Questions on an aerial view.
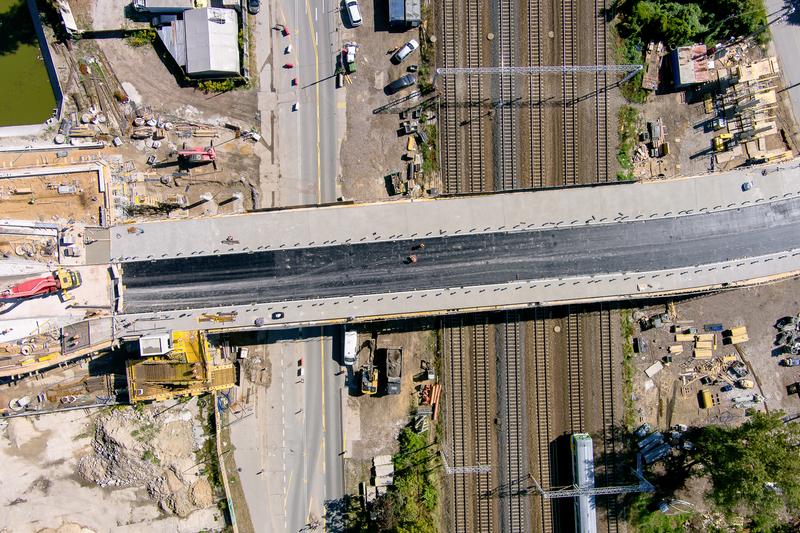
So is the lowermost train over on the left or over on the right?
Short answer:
right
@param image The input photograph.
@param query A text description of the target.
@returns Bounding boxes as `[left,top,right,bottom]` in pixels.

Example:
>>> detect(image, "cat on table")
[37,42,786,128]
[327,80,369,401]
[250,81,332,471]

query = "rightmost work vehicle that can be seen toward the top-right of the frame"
[707,135,731,153]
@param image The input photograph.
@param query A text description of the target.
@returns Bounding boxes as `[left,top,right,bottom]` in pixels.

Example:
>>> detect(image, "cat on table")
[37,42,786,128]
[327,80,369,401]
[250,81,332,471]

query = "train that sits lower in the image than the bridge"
[569,428,594,533]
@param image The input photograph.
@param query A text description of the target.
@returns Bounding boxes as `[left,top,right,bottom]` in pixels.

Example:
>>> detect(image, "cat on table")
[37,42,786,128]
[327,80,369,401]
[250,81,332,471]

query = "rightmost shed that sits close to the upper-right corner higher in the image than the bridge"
[665,43,716,94]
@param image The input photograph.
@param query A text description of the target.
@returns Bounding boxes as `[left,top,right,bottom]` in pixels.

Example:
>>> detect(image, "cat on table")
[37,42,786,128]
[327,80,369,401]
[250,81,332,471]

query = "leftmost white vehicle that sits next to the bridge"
[344,330,359,363]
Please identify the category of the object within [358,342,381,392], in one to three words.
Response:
work vehicle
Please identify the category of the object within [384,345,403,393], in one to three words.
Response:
vehicle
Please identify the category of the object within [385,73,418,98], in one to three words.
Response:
car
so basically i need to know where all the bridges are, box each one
[112,161,800,339]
